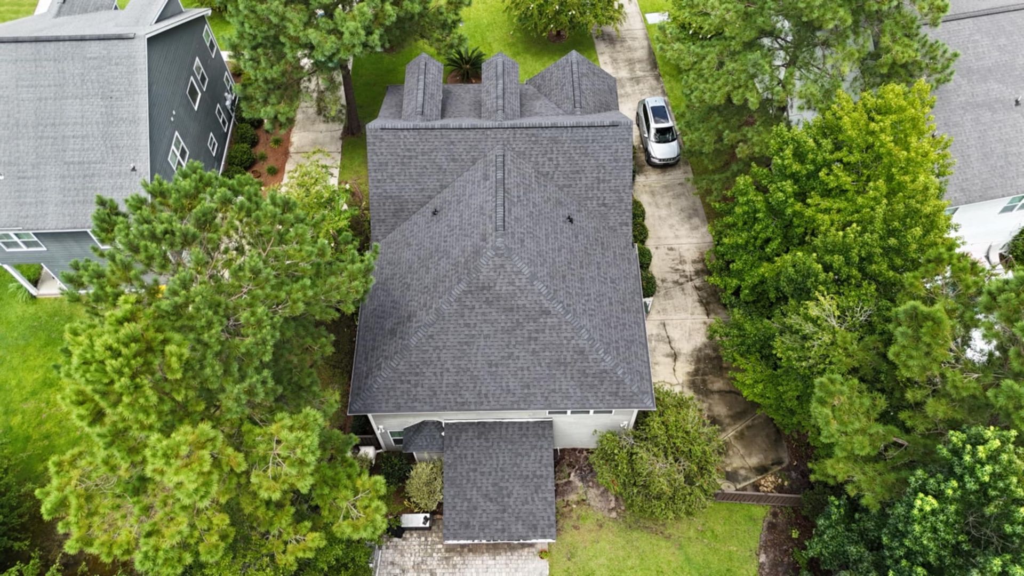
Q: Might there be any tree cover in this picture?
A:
Yes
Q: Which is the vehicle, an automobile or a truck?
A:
automobile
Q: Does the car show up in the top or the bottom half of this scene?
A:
top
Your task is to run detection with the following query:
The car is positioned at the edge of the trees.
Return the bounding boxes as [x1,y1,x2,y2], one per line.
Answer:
[638,96,687,168]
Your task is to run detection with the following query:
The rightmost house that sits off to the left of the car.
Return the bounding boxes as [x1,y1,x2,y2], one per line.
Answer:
[348,48,657,546]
